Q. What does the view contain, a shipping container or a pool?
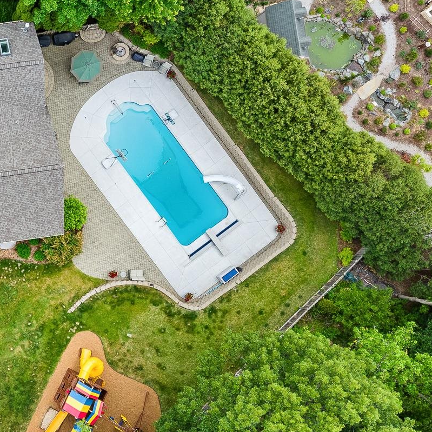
pool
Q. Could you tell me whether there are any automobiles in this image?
No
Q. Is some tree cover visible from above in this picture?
Yes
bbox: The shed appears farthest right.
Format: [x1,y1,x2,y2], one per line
[263,0,313,56]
